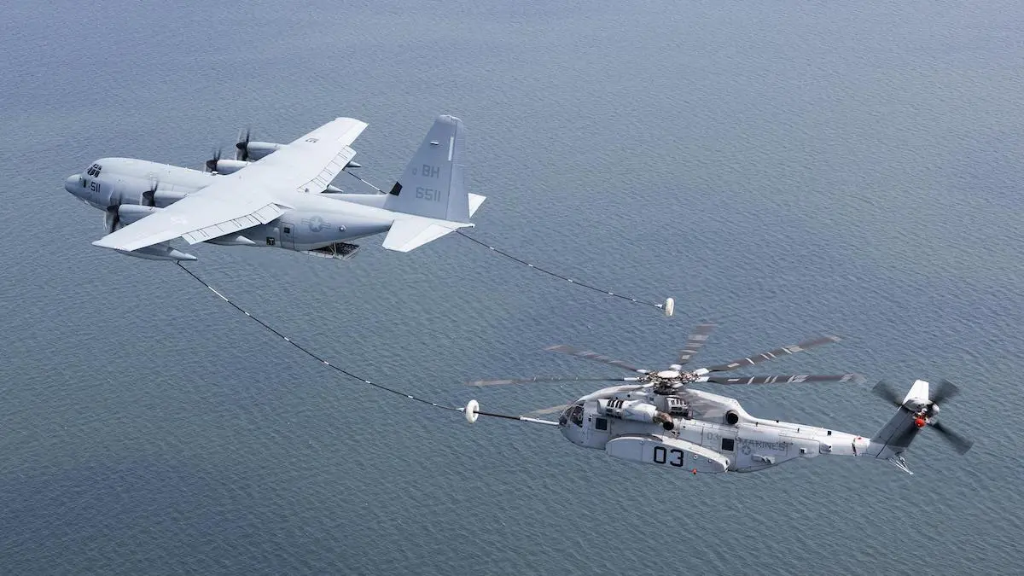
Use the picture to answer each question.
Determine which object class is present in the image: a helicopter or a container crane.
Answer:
helicopter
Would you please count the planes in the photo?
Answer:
one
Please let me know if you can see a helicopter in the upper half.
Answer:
No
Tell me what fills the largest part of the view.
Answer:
water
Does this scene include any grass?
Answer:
No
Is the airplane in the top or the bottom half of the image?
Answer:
top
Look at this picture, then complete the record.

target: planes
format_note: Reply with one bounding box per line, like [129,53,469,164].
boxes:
[64,117,485,264]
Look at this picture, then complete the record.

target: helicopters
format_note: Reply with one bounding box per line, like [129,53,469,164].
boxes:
[471,326,974,475]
